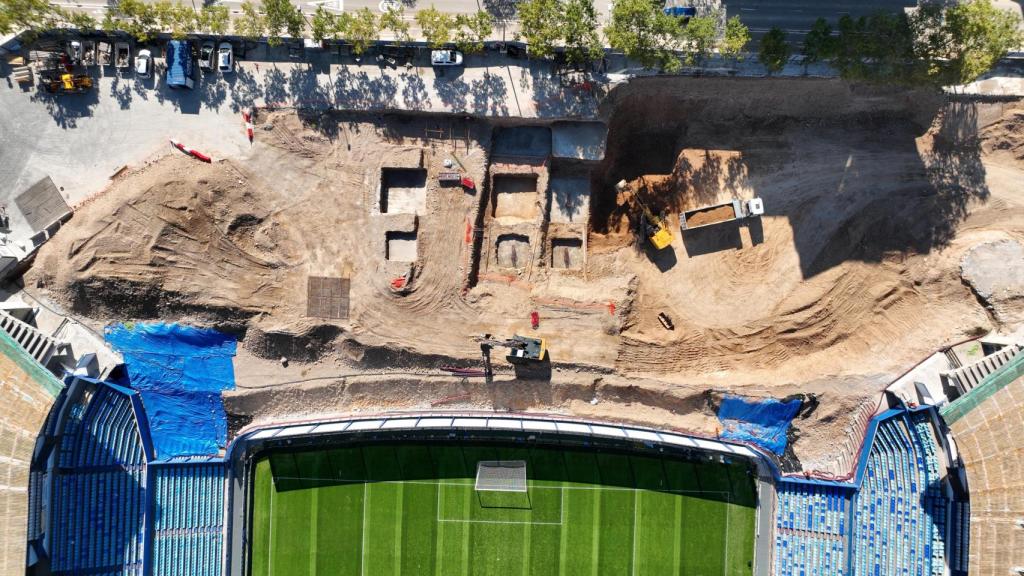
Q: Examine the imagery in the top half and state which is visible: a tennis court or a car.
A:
car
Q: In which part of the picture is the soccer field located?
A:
bottom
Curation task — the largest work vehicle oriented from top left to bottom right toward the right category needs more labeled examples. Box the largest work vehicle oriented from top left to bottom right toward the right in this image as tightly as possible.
[617,183,676,254]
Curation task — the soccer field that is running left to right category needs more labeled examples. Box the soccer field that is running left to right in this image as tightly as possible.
[253,443,757,576]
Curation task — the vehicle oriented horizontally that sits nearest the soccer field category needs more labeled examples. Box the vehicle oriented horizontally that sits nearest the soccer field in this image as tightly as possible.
[484,333,546,360]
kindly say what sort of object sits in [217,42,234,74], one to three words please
car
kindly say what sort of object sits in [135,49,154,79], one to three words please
car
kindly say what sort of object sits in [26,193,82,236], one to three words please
building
